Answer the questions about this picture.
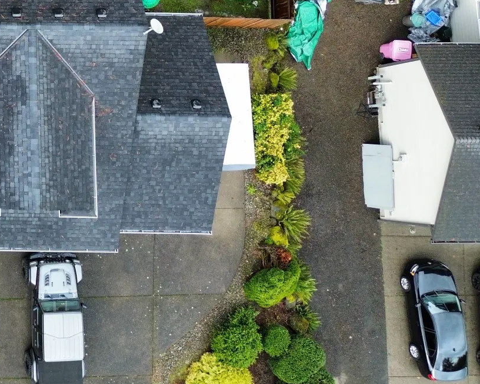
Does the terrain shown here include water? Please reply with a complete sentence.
No, the picture contains no water.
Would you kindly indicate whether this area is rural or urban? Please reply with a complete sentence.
The area is urban.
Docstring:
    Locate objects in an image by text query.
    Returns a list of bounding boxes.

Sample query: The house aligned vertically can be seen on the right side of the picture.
[372,0,480,246]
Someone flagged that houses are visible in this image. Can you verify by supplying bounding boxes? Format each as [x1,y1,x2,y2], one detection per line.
[0,0,231,253]
[372,0,480,246]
